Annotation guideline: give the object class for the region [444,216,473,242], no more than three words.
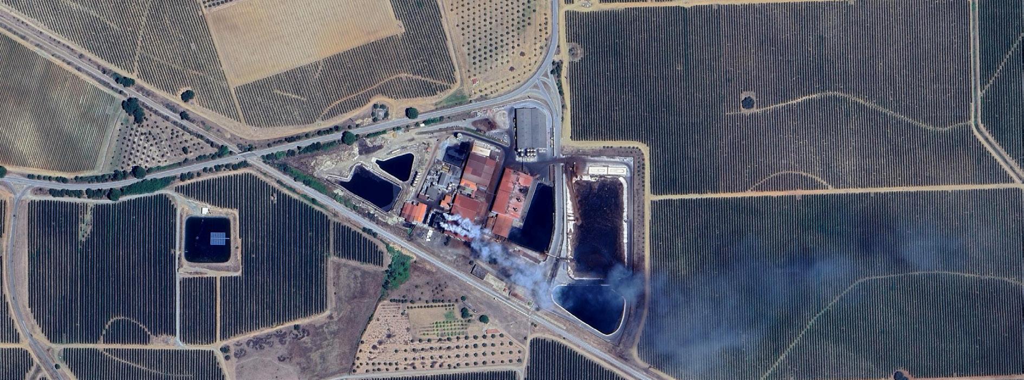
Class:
building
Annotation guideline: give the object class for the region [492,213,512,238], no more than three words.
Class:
building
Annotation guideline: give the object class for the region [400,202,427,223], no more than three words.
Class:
shed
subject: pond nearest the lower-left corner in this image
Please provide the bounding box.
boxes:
[180,212,236,269]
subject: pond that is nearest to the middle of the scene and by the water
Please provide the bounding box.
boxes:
[507,181,555,254]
